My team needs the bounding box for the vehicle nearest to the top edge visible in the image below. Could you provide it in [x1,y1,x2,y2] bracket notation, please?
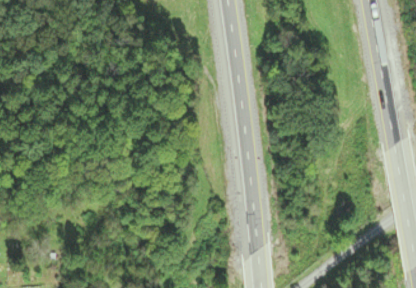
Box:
[371,2,388,67]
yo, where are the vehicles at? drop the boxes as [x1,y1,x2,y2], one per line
[371,2,388,67]
[379,90,386,108]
